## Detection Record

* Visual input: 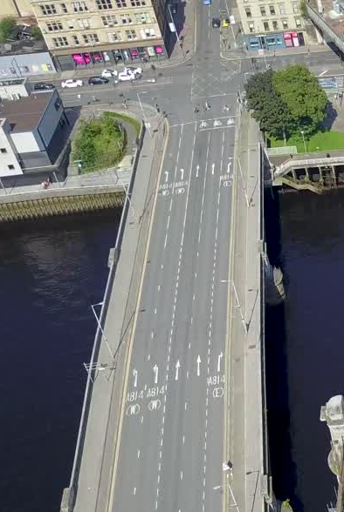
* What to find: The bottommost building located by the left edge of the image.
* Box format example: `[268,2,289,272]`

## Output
[0,76,68,178]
